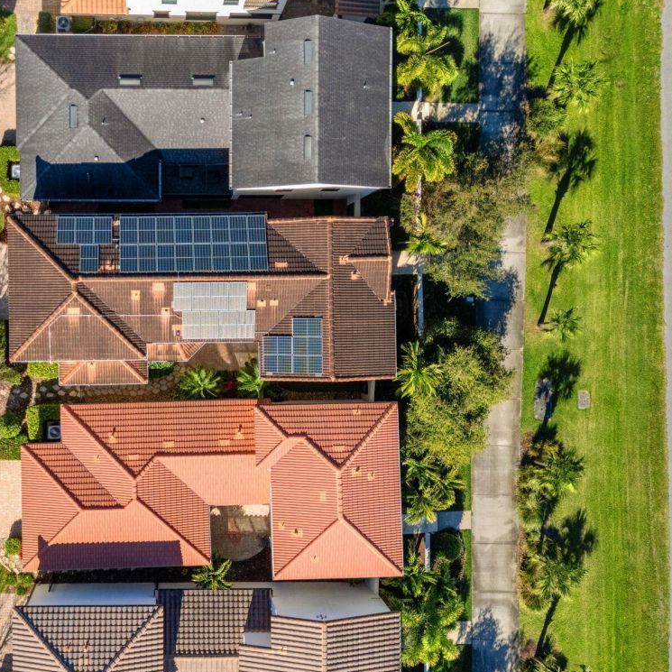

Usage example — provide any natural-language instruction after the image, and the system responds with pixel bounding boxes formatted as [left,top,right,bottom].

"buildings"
[5,212,398,387]
[10,581,403,672]
[19,399,405,581]
[15,15,392,202]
